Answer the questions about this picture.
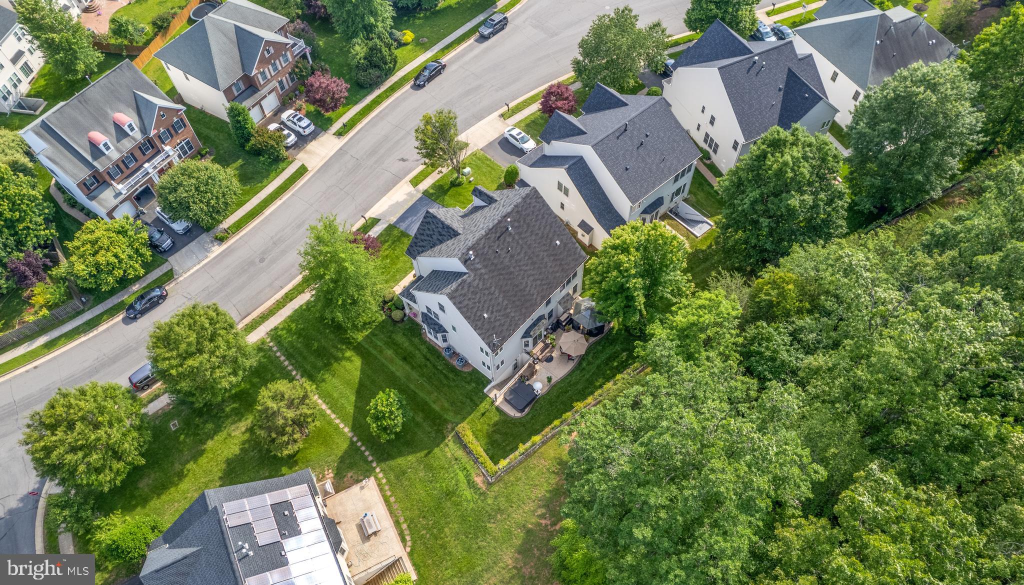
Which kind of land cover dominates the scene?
trees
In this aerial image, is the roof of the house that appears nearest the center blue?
No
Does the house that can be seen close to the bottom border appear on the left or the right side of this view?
left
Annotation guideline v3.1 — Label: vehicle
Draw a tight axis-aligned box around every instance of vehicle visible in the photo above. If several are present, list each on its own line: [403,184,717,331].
[478,12,510,38]
[503,127,536,154]
[154,206,191,235]
[125,357,160,390]
[122,284,169,321]
[132,214,172,250]
[414,62,448,87]
[768,22,795,43]
[656,54,675,78]
[749,18,775,45]
[283,111,315,137]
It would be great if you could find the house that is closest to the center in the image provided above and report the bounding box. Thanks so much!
[398,183,588,399]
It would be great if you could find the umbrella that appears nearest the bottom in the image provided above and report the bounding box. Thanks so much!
[558,333,589,360]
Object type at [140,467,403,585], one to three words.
house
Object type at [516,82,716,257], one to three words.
house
